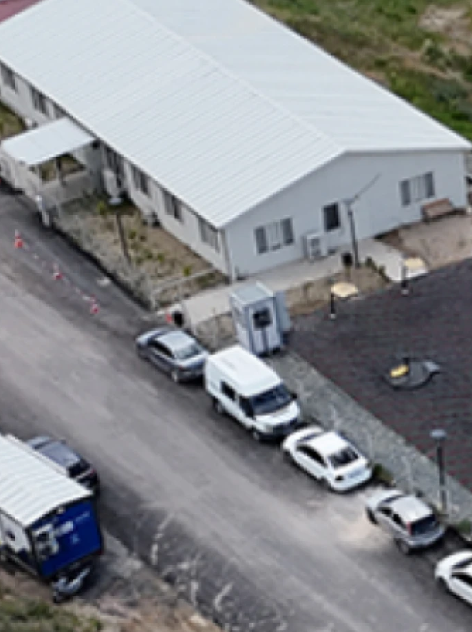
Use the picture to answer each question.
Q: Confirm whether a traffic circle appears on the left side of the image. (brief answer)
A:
No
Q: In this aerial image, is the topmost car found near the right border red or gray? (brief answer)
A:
gray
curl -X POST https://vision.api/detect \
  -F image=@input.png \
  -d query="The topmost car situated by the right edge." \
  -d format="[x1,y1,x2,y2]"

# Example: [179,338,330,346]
[362,496,452,562]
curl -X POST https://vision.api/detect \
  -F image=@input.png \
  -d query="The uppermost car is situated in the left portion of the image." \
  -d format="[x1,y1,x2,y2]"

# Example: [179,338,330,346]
[133,332,207,392]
